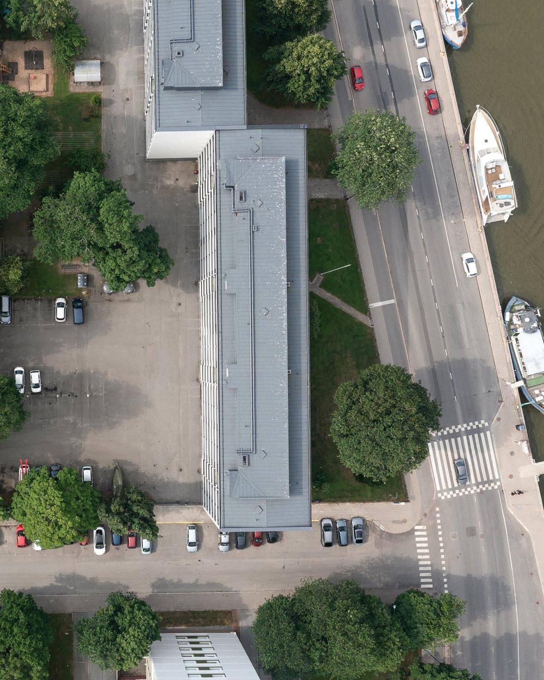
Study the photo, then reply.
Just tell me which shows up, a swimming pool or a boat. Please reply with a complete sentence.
There is a boat in the scene.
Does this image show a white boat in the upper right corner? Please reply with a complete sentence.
Yes, looking in the upper right corner, one can make out a white boat.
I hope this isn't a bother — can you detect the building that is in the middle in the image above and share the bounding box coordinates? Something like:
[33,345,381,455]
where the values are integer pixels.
[197,128,312,533]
